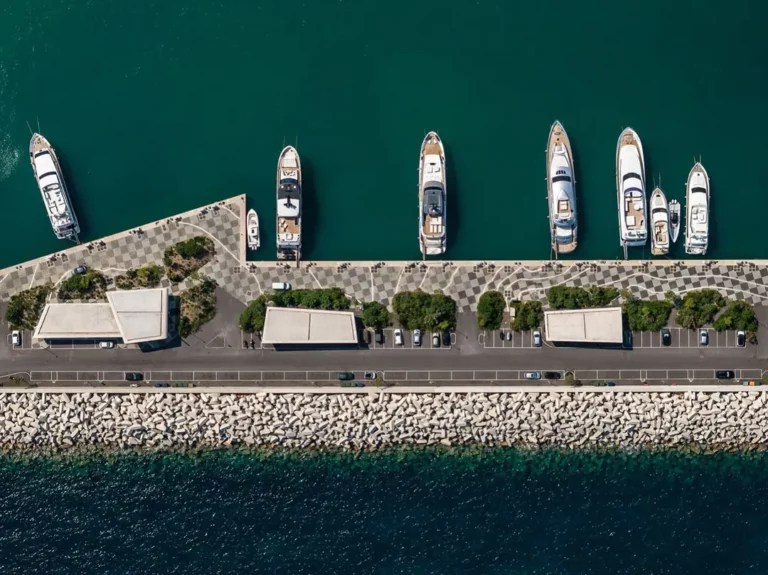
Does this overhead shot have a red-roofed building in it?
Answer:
No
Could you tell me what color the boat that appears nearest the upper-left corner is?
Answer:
white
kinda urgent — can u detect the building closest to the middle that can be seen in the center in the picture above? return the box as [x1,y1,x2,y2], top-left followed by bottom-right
[262,307,358,343]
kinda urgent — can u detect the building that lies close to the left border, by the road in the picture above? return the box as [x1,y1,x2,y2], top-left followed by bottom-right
[33,288,169,344]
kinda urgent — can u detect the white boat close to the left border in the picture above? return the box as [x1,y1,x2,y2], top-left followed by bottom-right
[28,119,92,252]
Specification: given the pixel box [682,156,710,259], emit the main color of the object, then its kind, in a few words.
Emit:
white boat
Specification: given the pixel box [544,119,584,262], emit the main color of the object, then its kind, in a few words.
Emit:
white boat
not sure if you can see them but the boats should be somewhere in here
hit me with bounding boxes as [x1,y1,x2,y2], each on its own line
[616,126,647,262]
[544,119,584,262]
[276,138,310,268]
[650,179,679,262]
[682,156,710,259]
[418,128,447,262]
[28,119,92,252]
[247,208,260,250]
[669,201,680,243]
